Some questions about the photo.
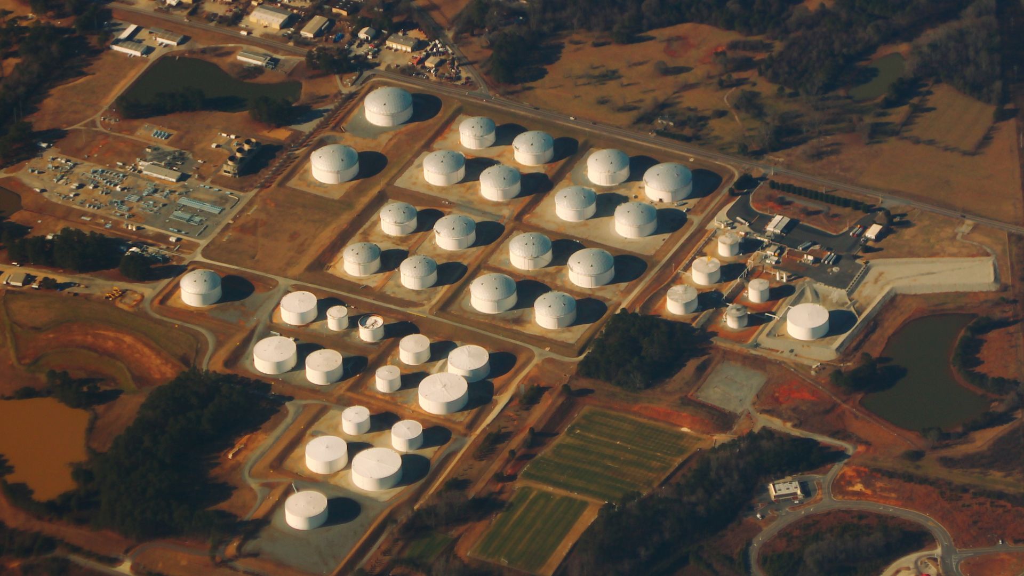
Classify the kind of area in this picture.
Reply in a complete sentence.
It's an industrial area.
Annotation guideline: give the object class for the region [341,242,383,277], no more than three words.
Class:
storage tank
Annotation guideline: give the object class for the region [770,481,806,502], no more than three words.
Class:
building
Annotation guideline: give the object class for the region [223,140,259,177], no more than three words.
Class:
cooling tower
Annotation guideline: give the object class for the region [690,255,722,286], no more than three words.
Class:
storage tank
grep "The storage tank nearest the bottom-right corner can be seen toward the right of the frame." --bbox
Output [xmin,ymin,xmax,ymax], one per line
[785,302,831,341]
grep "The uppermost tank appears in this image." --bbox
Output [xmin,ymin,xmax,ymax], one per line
[363,88,414,127]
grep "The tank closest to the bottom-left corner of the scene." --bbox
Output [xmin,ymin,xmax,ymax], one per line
[283,488,330,531]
